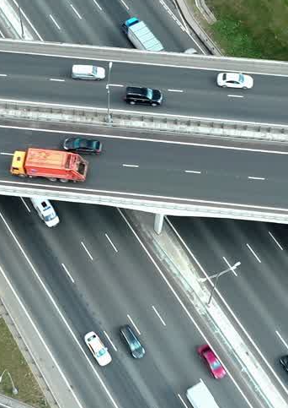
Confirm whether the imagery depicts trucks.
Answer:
Yes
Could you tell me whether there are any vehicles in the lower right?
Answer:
Yes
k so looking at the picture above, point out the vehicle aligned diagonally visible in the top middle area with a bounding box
[124,14,165,52]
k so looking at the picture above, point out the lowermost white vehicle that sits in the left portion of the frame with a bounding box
[81,330,112,369]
